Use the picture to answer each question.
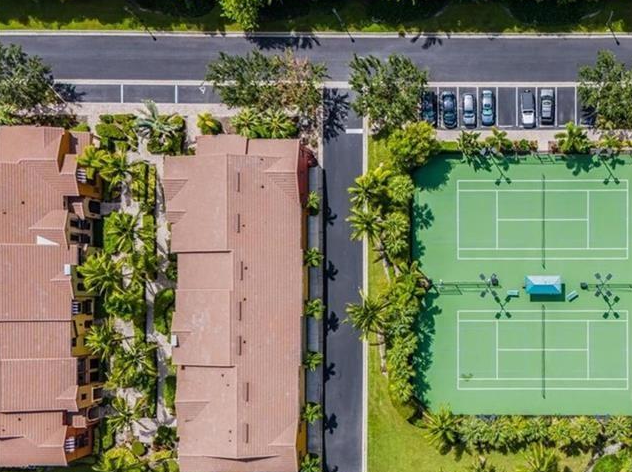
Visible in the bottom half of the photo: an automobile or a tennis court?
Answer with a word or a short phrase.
tennis court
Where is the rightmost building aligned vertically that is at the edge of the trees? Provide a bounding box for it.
[162,133,323,472]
